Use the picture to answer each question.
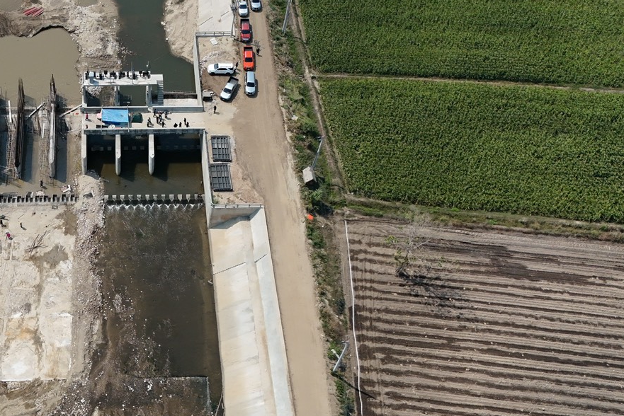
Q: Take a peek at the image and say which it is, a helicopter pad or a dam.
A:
dam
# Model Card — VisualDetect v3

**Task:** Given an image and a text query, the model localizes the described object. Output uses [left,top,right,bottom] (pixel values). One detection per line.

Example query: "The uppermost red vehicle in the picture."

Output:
[239,16,252,41]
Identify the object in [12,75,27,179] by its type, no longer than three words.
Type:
pier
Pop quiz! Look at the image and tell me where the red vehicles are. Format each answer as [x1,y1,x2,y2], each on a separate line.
[239,16,252,41]
[242,45,256,68]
